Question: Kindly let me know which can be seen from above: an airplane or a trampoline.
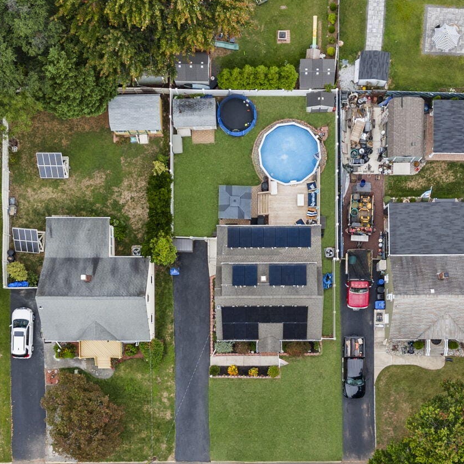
trampoline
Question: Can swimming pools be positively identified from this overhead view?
Yes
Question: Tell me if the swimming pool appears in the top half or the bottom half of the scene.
top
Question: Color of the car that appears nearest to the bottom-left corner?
white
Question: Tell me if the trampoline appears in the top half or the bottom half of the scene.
top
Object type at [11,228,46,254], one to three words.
solar array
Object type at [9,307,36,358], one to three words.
car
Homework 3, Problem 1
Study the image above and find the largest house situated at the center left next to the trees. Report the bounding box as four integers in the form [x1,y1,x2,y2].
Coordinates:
[33,216,156,342]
